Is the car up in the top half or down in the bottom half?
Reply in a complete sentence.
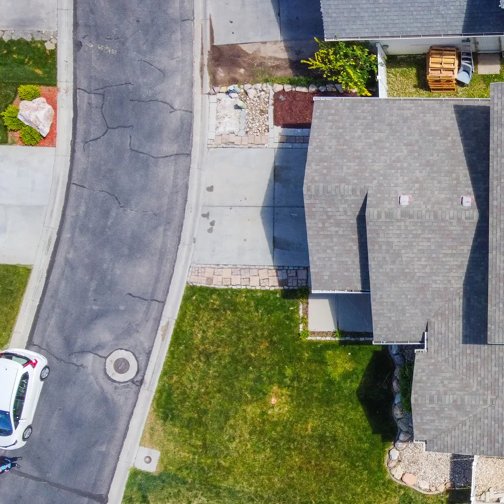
Seen from above, the car lies in the bottom half of the view.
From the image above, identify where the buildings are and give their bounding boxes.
[319,0,504,60]
[301,83,504,459]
